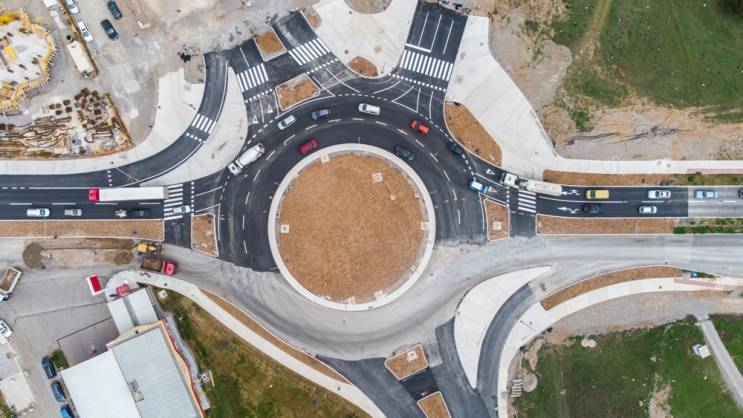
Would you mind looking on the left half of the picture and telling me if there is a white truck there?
Yes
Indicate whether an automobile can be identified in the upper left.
Yes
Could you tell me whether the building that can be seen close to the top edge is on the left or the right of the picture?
left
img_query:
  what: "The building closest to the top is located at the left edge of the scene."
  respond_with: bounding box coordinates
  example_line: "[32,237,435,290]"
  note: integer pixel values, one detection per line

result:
[0,5,62,114]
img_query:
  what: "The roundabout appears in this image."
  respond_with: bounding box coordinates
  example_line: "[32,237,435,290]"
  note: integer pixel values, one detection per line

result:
[212,86,490,311]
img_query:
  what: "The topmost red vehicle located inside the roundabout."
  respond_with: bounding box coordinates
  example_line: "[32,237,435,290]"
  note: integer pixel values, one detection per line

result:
[409,119,431,135]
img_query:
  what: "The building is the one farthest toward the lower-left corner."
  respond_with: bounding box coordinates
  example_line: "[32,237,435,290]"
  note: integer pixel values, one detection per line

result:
[0,374,39,411]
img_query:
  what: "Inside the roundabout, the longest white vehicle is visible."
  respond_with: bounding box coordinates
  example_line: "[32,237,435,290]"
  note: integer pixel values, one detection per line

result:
[225,144,268,179]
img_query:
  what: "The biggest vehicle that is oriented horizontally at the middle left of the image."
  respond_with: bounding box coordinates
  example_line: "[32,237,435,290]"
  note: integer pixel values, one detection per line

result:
[90,187,170,203]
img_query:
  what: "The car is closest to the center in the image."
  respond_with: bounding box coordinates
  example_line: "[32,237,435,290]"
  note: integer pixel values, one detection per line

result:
[393,144,415,162]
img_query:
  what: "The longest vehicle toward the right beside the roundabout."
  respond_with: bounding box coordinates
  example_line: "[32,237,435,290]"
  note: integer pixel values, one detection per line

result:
[496,171,562,195]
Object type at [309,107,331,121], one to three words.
vehicle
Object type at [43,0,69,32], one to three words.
truck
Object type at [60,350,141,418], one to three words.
building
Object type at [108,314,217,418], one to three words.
building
